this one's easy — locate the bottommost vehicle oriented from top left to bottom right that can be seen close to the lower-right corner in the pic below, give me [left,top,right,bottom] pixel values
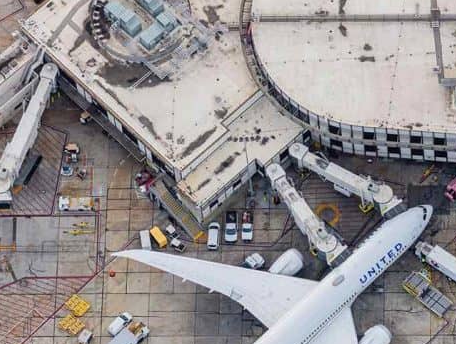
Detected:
[401,267,456,320]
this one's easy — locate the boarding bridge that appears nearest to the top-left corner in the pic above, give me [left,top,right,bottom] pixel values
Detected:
[0,64,60,217]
